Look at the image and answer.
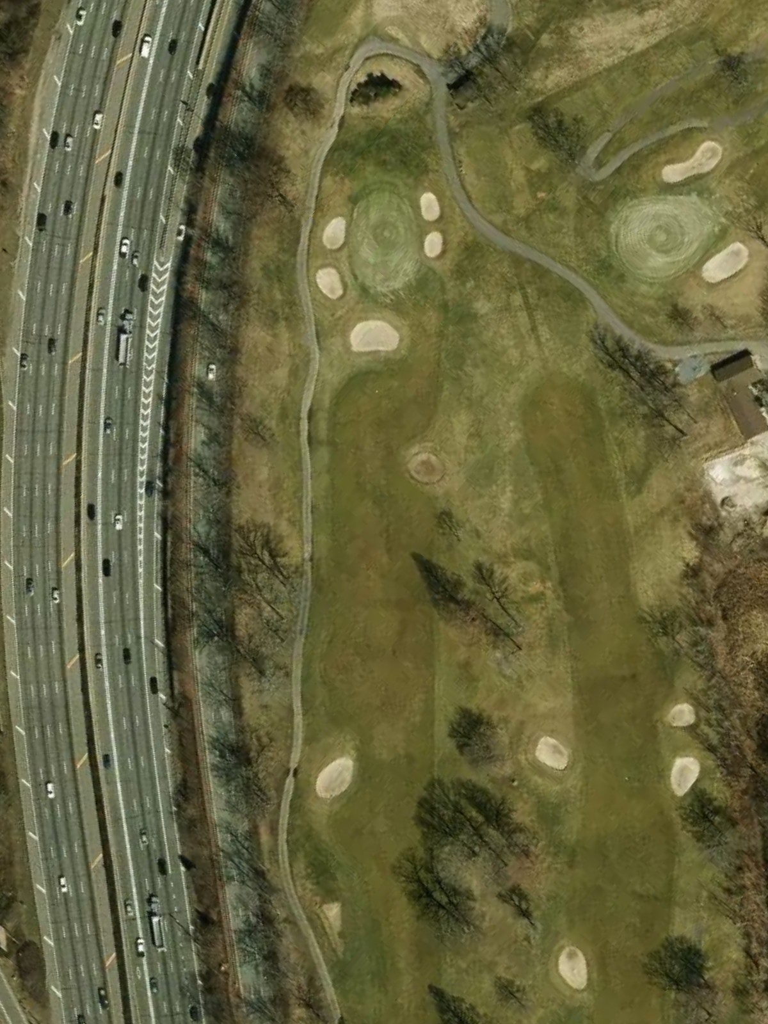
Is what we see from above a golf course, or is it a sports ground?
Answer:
golf course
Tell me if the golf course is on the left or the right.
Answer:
right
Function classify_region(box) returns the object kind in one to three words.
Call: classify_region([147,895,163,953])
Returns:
vehicle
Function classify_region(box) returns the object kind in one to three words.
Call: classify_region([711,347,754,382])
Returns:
shed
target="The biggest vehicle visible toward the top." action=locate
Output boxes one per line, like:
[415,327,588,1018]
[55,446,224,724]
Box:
[119,310,133,368]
